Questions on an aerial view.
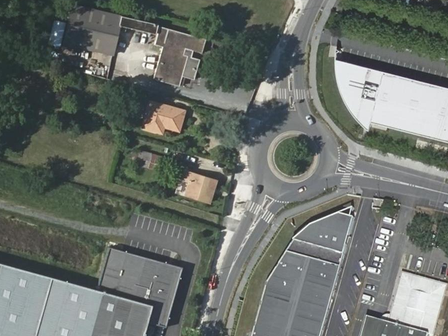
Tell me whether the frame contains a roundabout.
Yes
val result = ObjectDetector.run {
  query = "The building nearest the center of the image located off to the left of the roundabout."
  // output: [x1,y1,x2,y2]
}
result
[182,172,218,205]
